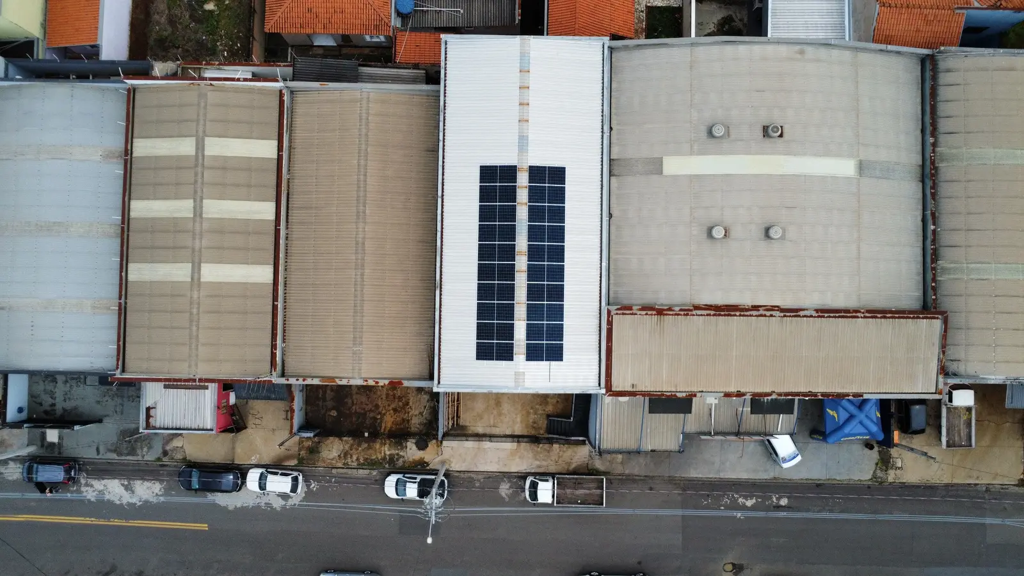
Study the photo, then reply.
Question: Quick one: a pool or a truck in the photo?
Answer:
truck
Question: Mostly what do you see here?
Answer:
buildings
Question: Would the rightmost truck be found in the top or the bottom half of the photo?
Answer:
bottom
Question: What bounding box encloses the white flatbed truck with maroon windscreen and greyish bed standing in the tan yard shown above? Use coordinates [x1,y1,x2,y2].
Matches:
[936,380,976,450]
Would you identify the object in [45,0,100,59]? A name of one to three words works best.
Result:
house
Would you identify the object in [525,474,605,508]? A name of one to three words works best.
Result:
truck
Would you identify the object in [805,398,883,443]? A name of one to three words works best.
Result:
tent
